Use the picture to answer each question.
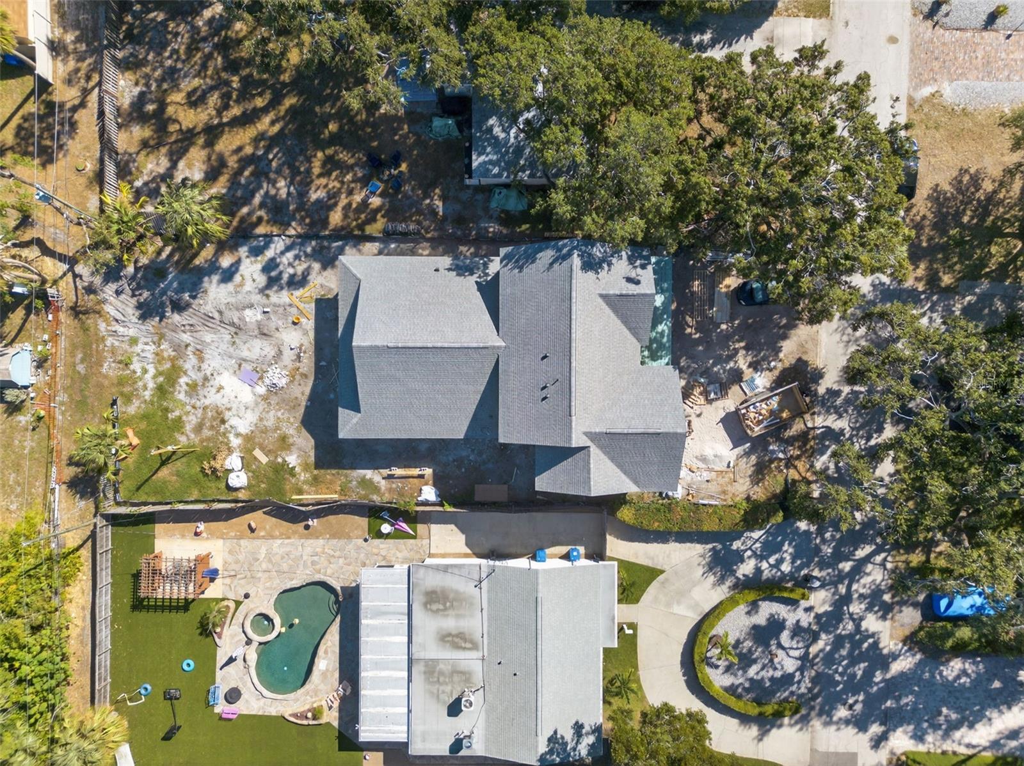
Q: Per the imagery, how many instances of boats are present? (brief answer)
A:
0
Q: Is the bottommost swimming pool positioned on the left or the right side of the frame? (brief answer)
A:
left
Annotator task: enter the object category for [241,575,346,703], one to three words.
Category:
swimming pool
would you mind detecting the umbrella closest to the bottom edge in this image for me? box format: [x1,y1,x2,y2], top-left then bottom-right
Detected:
[220,640,251,671]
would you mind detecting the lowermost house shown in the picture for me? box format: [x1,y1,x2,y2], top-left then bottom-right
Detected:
[360,554,619,766]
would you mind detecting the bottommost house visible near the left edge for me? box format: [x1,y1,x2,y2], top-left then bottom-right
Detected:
[0,347,42,386]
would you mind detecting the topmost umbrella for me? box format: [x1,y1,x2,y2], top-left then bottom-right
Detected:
[378,511,415,535]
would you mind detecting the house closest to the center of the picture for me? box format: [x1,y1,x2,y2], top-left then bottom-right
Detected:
[337,240,687,496]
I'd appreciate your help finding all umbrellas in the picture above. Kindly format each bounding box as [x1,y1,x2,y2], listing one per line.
[378,511,415,535]
[202,569,222,582]
[220,640,251,671]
